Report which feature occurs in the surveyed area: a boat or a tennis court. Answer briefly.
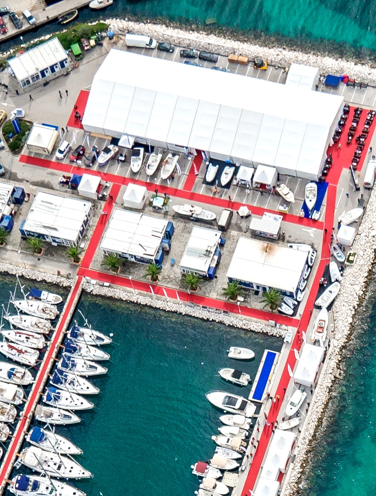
boat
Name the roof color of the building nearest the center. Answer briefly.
white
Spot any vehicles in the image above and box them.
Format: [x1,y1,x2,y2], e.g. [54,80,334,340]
[125,32,158,49]
[0,136,6,150]
[363,159,376,189]
[179,49,198,59]
[184,58,202,66]
[210,64,227,72]
[253,57,267,69]
[0,15,8,33]
[56,139,70,158]
[69,142,85,161]
[84,145,101,166]
[20,7,37,25]
[218,206,230,231]
[197,49,219,63]
[155,42,176,53]
[0,5,11,15]
[6,9,24,28]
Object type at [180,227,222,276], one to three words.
building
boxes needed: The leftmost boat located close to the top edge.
[56,9,78,25]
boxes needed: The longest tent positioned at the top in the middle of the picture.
[82,49,344,180]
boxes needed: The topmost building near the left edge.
[7,37,69,87]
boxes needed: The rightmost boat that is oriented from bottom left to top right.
[337,208,363,225]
